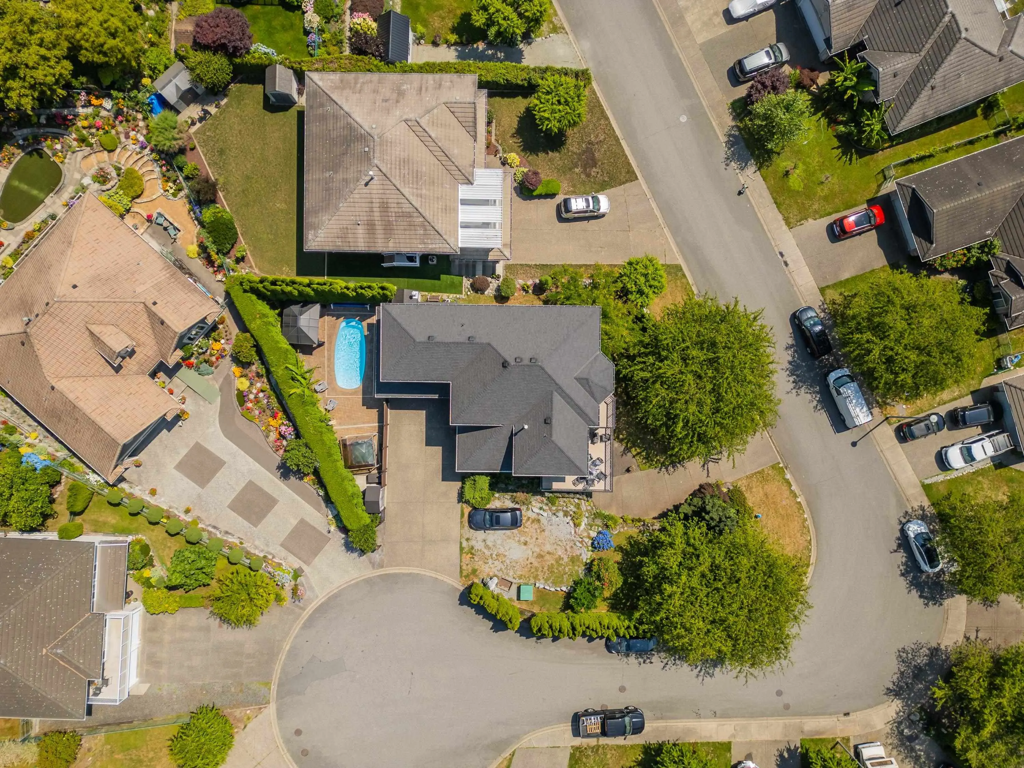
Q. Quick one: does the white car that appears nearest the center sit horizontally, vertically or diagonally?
horizontally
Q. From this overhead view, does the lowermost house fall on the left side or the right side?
left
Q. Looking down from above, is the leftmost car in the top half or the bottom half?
bottom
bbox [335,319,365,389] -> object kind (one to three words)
swimming pool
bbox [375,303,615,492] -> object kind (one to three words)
house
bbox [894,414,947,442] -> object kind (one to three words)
car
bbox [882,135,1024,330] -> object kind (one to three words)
house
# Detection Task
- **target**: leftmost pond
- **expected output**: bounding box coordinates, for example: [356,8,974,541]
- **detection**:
[0,143,65,226]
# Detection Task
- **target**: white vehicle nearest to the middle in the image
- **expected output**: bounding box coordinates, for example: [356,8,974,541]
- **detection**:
[559,192,610,219]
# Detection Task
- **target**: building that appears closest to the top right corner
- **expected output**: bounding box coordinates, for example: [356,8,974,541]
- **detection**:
[806,0,1024,139]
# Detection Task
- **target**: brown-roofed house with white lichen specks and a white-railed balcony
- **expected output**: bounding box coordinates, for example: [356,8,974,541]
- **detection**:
[0,530,150,721]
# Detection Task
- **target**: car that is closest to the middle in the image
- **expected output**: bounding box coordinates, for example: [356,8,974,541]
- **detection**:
[469,507,521,532]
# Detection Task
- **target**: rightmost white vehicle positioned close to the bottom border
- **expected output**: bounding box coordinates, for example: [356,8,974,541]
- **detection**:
[860,737,892,768]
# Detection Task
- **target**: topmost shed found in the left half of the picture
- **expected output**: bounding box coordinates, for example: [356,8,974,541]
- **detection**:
[378,10,412,64]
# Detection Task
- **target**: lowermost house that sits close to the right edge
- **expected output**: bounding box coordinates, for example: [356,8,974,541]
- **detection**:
[986,370,1024,463]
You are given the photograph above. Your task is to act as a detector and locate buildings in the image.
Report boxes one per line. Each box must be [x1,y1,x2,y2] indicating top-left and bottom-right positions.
[365,484,385,513]
[304,71,512,265]
[378,10,412,64]
[153,61,212,118]
[882,135,1024,330]
[986,370,1024,463]
[375,303,615,492]
[0,190,227,485]
[265,64,298,106]
[0,530,150,721]
[806,0,1024,139]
